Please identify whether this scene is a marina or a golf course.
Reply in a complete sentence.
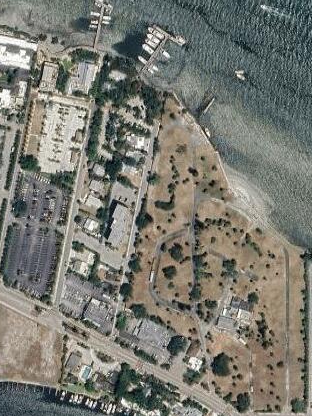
The picture captures a marina.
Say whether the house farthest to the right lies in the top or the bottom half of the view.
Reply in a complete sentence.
You can find the house farthest to the right in the bottom half.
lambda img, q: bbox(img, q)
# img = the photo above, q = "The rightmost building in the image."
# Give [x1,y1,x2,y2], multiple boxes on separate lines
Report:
[217,298,251,330]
